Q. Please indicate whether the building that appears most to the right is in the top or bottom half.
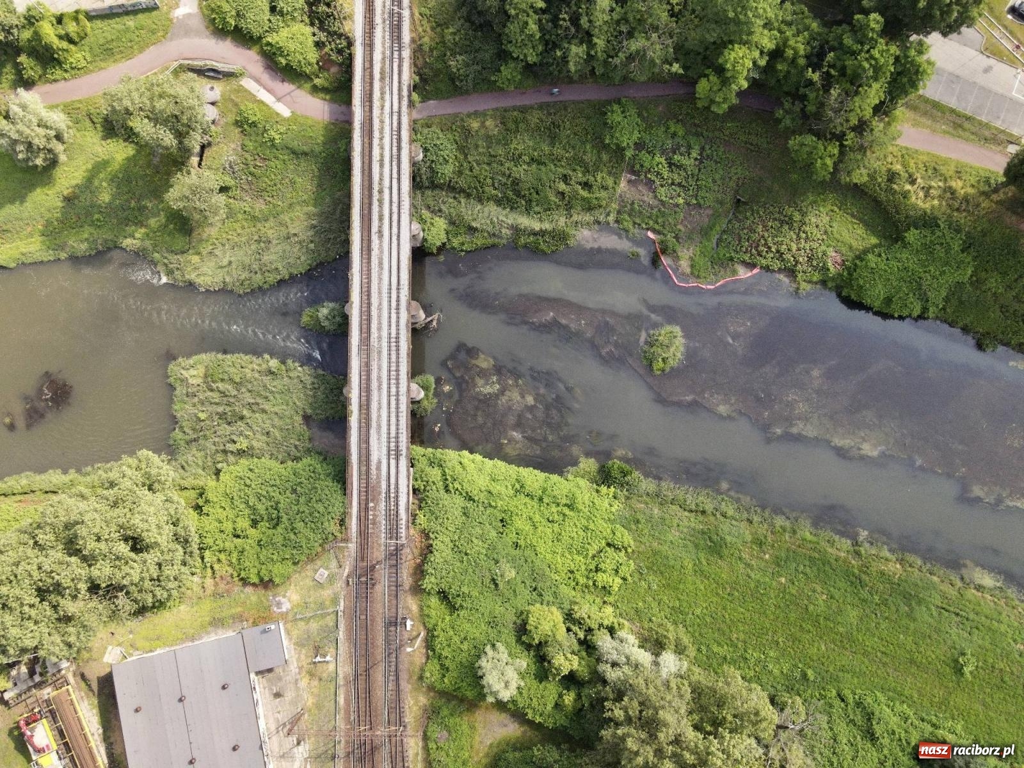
bottom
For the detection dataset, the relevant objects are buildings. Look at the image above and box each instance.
[23,0,162,19]
[111,616,293,768]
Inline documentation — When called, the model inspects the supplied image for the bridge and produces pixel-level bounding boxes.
[343,0,427,542]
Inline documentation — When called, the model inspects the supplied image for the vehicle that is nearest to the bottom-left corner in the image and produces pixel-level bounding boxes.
[15,710,68,768]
